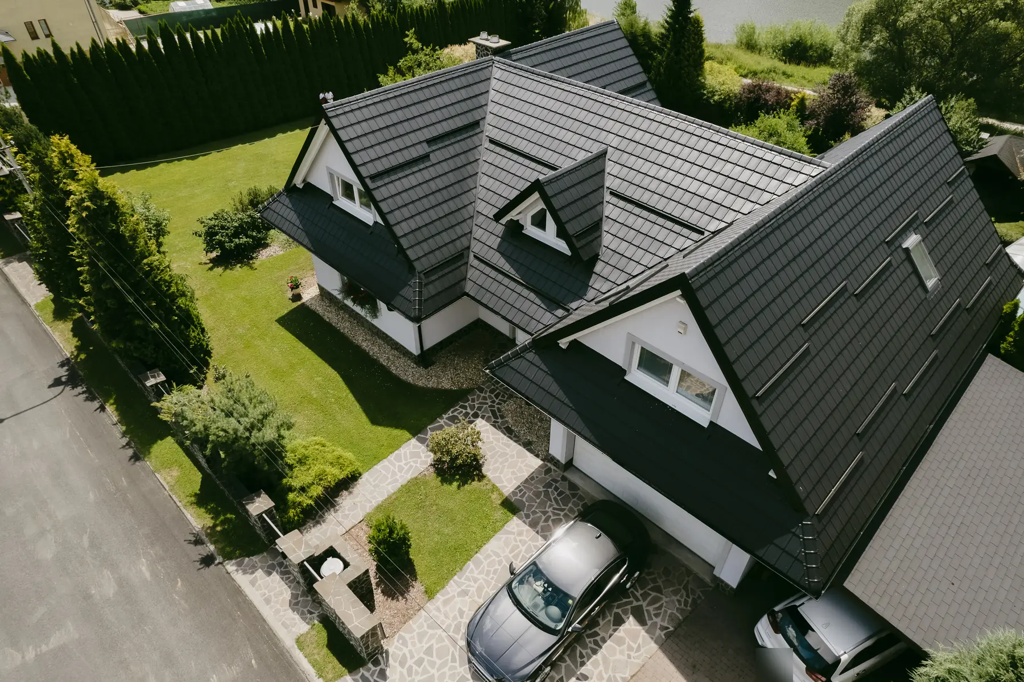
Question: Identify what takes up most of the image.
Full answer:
The largest share of the image is taken up by buildings.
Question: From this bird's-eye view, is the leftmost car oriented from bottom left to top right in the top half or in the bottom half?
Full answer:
The leftmost car oriented from bottom left to top right is in the bottom half of the image.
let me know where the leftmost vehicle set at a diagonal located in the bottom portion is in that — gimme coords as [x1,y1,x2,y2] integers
[465,495,655,682]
